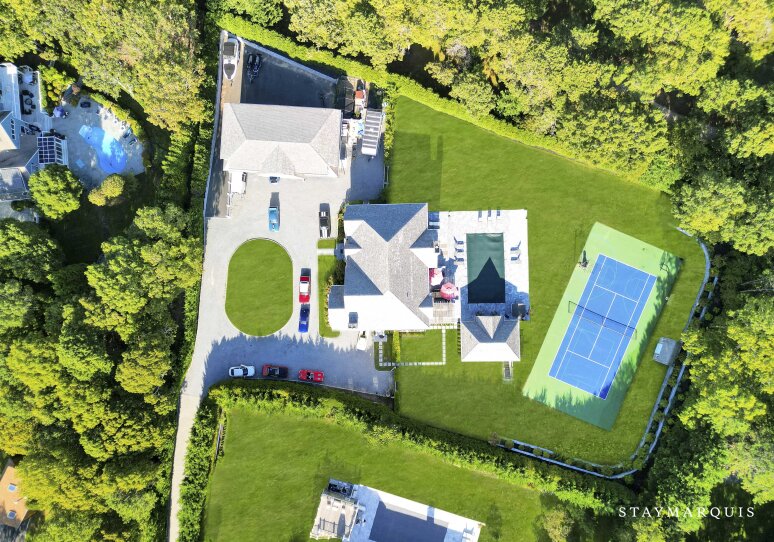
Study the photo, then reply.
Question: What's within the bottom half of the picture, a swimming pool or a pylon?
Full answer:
What appears within the bottom half of the picture is a swimming pool.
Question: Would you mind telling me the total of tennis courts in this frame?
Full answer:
I count just 1 tennis court.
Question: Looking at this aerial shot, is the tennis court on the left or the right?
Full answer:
You can find the tennis court on the right side of the picture.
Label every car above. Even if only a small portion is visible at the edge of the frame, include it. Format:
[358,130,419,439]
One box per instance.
[261,365,289,378]
[268,206,279,233]
[318,210,330,239]
[298,371,325,383]
[228,363,255,378]
[298,275,310,304]
[297,305,309,333]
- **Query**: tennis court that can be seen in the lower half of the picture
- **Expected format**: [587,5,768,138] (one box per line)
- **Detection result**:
[522,222,682,431]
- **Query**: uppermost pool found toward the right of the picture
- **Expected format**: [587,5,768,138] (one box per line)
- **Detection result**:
[466,232,506,305]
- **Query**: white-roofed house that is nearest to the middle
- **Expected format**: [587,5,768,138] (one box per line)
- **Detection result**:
[328,203,440,343]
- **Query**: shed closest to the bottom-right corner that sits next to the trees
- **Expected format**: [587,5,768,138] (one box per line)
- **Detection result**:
[649,336,677,365]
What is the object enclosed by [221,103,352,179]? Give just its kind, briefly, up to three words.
building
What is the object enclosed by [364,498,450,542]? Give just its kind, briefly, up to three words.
swimming pool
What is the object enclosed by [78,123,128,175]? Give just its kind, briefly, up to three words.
swimming pool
